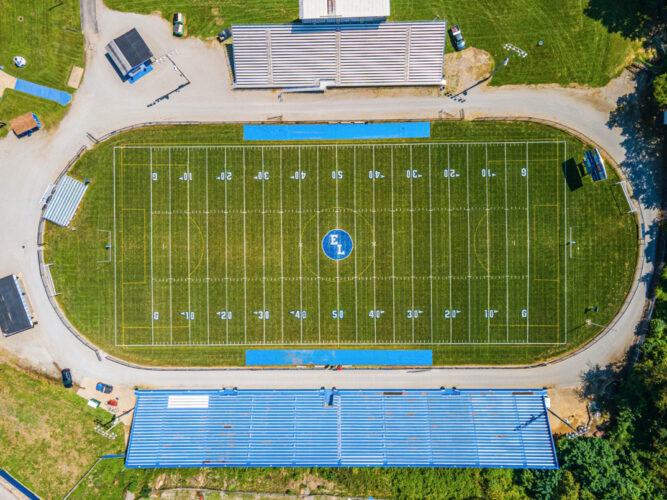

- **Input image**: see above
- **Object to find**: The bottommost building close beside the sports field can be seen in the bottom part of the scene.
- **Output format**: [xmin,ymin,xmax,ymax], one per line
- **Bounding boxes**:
[0,274,38,335]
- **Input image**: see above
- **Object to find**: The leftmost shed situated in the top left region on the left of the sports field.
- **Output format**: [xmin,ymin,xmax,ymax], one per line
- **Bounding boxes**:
[10,112,44,137]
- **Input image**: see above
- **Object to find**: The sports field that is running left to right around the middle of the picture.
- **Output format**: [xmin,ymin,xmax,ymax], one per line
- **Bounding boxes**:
[41,122,641,367]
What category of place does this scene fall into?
sports ground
